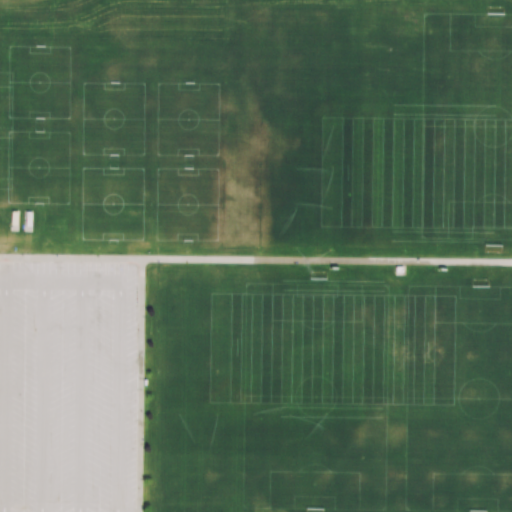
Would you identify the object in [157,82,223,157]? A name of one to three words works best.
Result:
soccer field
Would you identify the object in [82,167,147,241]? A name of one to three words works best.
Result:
soccer field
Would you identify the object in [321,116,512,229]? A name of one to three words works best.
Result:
sports field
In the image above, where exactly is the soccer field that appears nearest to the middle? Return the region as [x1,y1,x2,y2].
[157,168,222,243]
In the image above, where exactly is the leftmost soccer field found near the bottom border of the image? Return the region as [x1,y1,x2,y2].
[243,406,390,510]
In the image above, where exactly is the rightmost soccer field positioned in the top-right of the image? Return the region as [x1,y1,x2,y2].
[421,13,512,116]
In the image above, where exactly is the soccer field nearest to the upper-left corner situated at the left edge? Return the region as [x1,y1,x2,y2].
[8,45,73,120]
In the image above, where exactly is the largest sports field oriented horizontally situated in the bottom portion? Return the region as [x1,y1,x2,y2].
[209,293,458,406]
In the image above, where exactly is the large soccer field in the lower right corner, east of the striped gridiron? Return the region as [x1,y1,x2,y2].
[405,285,512,512]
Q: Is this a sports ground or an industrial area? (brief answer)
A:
sports ground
